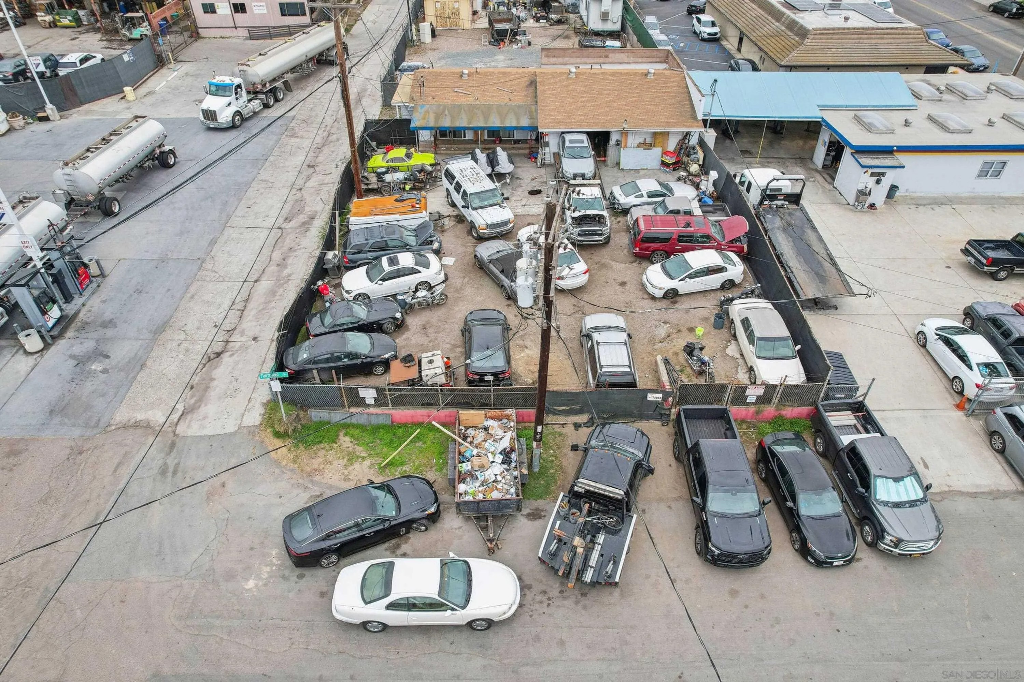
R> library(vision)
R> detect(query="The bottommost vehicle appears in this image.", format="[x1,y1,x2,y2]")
[330,545,522,632]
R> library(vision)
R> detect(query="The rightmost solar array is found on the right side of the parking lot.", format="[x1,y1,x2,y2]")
[844,3,904,23]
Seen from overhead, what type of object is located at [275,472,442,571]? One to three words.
car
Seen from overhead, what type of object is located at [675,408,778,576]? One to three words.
truck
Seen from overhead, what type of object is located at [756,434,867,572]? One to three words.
car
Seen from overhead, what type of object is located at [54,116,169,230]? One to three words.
trailer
